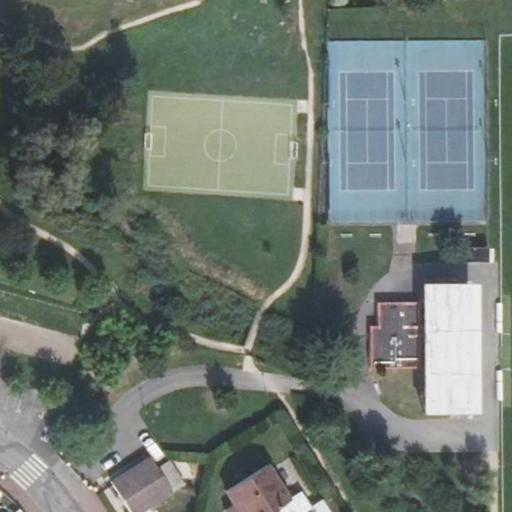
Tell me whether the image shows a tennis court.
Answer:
Yes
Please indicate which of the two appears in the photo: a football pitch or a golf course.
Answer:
football pitch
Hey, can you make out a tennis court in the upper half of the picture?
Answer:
Yes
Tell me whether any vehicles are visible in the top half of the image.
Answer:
No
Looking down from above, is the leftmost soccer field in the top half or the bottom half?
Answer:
top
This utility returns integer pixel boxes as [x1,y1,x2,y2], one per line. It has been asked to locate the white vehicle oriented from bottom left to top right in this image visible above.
[100,454,121,473]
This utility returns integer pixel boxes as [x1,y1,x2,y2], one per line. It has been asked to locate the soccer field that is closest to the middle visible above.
[144,92,297,198]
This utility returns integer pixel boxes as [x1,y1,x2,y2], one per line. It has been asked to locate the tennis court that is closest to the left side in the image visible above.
[328,40,406,222]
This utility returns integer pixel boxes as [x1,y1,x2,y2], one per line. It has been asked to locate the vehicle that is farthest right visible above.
[138,432,164,464]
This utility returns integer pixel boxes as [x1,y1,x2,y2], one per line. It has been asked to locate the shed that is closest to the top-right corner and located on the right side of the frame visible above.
[464,248,490,262]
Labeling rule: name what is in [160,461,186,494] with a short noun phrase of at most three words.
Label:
building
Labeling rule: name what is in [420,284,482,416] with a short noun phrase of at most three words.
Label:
building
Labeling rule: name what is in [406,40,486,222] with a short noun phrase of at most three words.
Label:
tennis court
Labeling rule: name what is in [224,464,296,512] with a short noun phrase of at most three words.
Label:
house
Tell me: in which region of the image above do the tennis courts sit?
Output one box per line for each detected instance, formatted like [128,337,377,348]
[328,40,406,222]
[406,40,486,222]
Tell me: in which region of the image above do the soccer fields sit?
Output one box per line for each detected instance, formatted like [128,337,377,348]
[144,92,297,198]
[501,36,512,512]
